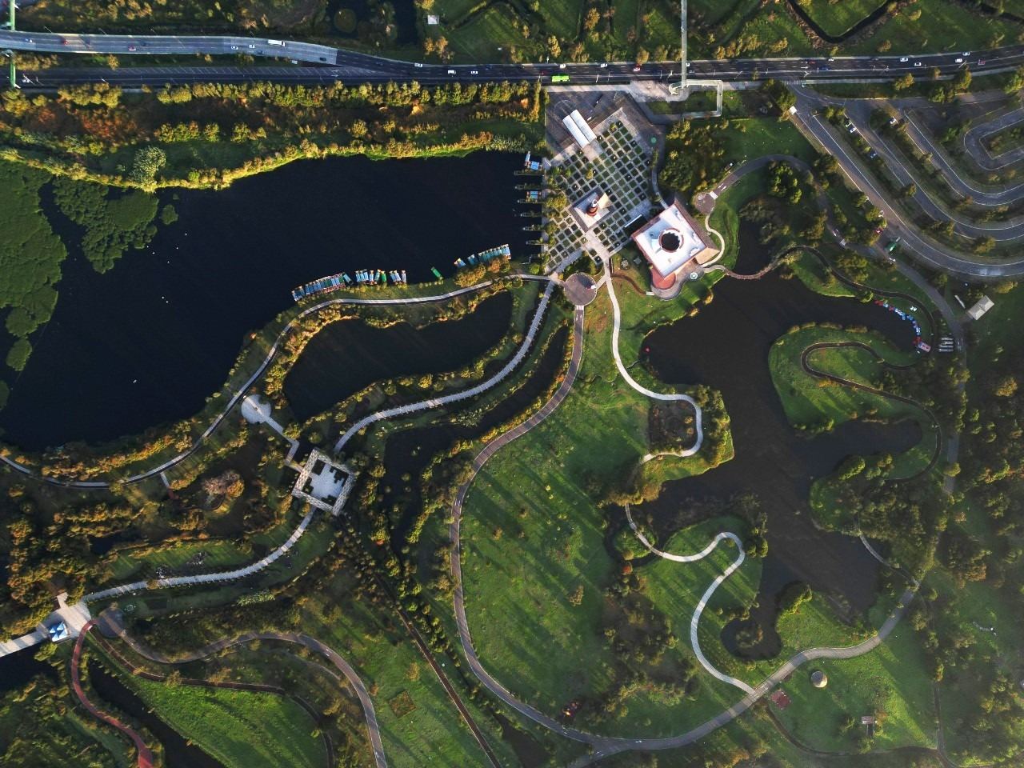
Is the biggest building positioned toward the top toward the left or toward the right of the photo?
right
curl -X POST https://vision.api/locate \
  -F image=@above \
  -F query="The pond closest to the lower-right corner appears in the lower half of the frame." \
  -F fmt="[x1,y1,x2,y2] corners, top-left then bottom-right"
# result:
[484,705,553,768]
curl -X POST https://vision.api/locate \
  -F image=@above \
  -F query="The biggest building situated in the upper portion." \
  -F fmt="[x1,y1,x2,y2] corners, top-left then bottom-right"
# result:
[630,199,721,280]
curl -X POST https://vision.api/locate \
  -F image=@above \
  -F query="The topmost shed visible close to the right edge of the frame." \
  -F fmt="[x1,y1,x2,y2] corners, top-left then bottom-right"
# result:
[969,295,997,320]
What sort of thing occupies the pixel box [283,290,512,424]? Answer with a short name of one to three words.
pond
